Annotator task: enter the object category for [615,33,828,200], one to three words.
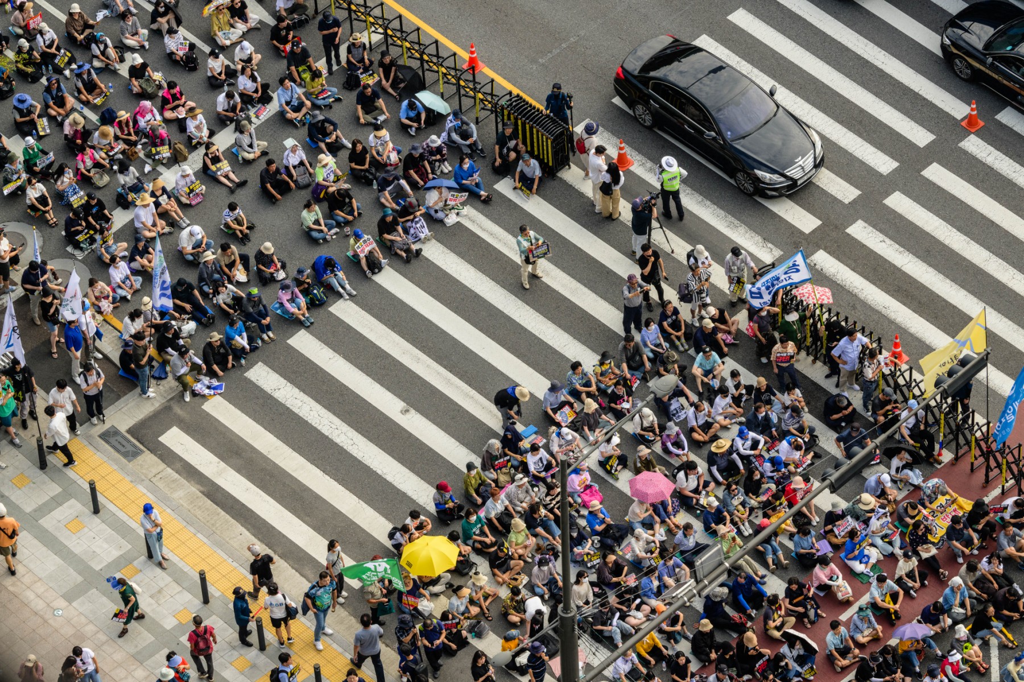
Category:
car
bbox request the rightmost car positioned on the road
[938,5,1024,117]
